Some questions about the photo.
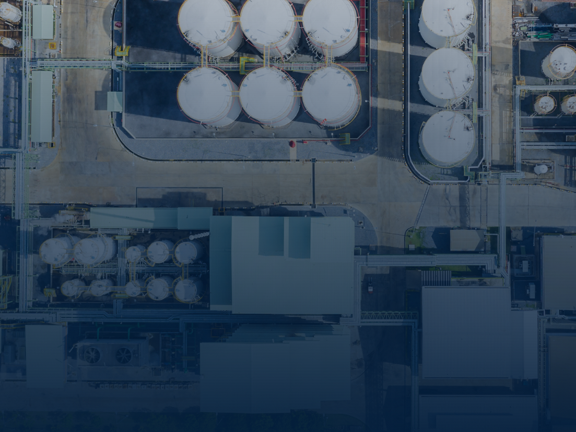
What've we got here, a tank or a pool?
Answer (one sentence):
The image shows a tank.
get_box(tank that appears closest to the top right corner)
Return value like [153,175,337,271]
[539,44,576,86]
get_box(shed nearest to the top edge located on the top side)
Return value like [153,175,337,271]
[31,3,61,43]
